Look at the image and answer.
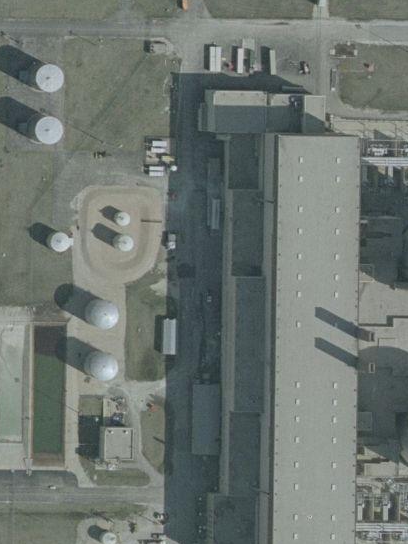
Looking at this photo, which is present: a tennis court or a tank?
tank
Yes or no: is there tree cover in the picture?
No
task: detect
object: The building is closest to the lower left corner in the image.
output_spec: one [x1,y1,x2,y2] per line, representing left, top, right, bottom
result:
[99,428,134,460]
